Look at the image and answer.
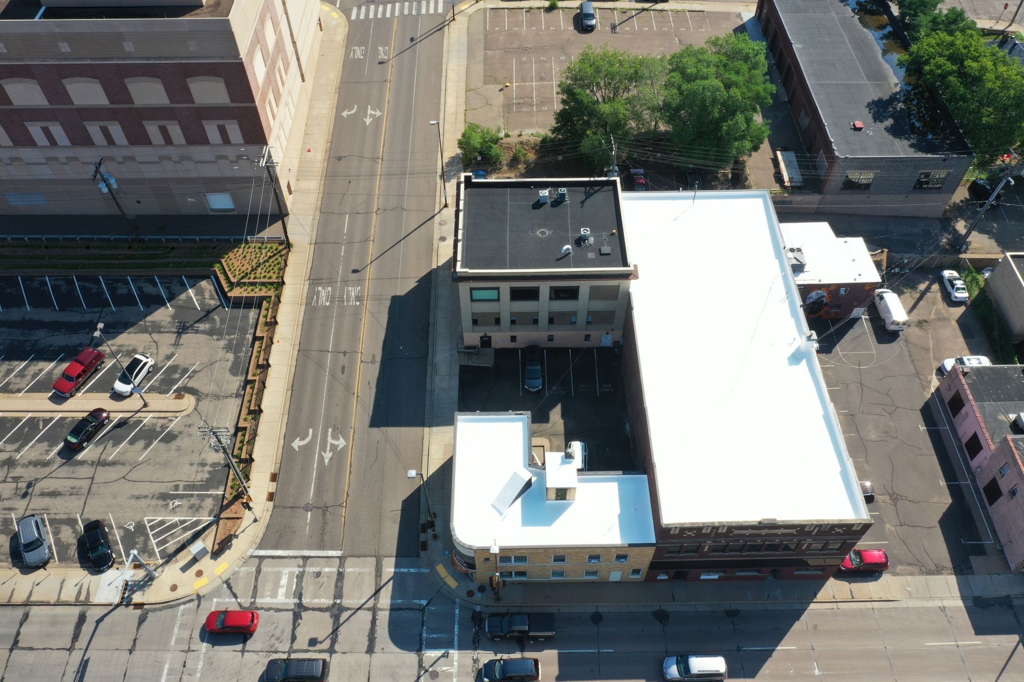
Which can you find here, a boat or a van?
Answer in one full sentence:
Of the two, only a van appears.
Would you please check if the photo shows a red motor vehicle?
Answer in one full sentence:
Yes, looking at the shot, I can spot a red motor vehicle.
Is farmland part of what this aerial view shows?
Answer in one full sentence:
No, there's no farmland in this view.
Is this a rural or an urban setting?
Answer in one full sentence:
The area shown here is urban.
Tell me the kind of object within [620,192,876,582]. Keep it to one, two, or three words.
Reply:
building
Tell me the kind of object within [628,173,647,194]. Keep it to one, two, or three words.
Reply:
car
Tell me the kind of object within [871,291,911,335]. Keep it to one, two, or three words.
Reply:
van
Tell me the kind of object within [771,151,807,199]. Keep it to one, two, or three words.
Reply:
trailer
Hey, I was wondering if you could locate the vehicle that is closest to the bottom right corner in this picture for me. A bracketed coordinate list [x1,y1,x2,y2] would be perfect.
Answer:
[836,548,895,580]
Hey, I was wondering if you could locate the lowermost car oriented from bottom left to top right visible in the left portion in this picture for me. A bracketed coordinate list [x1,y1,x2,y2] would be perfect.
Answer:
[60,408,114,453]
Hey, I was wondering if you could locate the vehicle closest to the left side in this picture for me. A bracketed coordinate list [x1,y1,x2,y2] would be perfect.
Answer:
[14,512,52,566]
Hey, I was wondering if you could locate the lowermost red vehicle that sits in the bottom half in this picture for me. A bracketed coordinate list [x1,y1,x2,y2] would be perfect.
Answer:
[202,606,263,638]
